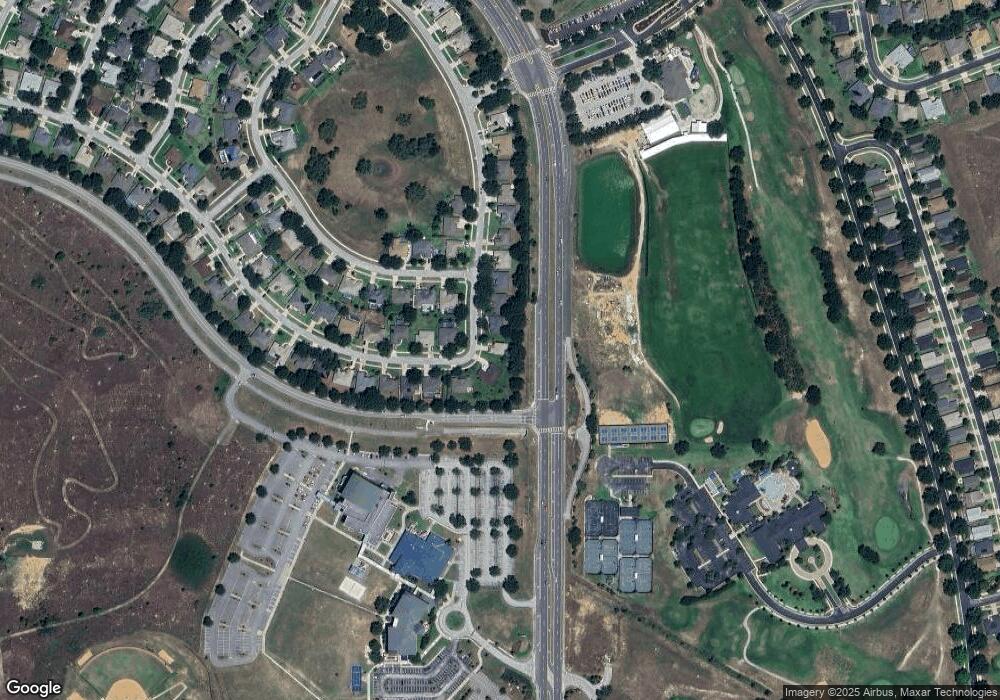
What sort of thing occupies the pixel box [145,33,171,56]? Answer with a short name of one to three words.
house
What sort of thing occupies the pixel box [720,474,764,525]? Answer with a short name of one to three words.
building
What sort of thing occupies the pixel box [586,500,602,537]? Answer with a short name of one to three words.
tennis court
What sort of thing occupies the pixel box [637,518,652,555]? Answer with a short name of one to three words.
tennis court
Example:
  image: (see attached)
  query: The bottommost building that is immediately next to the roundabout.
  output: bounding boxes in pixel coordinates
[385,592,435,663]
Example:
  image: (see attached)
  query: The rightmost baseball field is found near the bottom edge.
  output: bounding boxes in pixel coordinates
[80,645,187,700]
